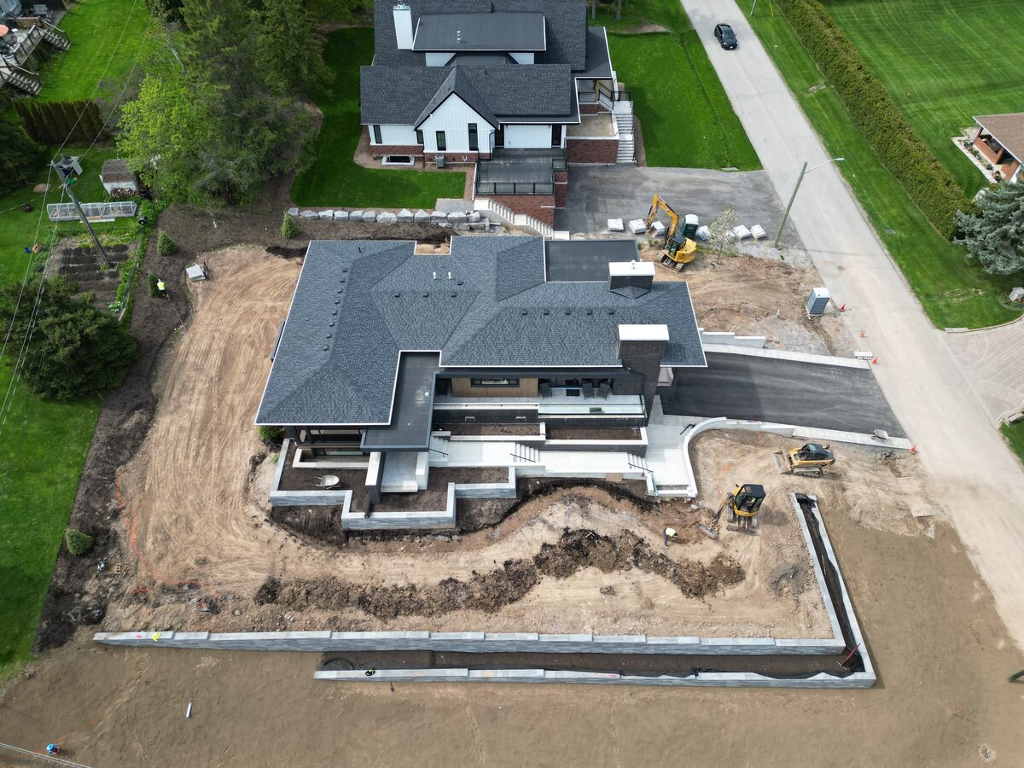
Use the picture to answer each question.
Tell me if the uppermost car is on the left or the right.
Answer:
right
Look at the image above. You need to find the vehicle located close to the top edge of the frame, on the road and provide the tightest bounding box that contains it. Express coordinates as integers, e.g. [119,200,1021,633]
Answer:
[713,19,738,46]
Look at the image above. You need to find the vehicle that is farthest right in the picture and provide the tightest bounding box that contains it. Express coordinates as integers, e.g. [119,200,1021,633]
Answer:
[770,441,844,487]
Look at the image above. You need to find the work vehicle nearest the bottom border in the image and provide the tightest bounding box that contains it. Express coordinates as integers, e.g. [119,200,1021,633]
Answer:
[702,483,773,539]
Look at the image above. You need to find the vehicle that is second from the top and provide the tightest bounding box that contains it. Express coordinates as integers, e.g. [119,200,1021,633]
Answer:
[643,190,703,270]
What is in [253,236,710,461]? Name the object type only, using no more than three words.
house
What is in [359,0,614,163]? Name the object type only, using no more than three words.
house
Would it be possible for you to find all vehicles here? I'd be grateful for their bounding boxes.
[770,441,844,487]
[643,190,703,270]
[702,483,773,539]
[713,19,738,46]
